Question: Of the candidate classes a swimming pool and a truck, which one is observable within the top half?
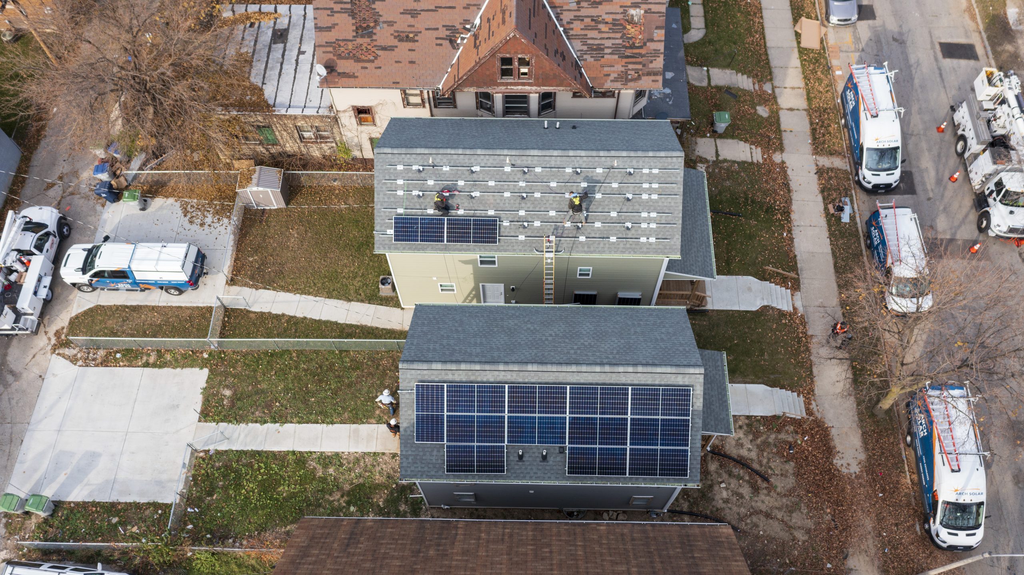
truck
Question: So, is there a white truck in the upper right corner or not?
Yes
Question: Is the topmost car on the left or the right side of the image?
right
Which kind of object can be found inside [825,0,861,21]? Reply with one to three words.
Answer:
car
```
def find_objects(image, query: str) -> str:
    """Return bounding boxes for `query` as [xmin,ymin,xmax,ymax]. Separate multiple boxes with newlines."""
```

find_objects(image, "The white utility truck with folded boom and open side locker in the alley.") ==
[0,205,69,360]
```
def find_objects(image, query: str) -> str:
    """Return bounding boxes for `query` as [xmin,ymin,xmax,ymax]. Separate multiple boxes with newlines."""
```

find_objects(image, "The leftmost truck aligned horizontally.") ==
[55,233,205,293]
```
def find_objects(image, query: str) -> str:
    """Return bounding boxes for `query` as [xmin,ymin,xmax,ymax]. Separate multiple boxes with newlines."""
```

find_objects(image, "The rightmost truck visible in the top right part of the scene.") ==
[940,41,1024,248]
